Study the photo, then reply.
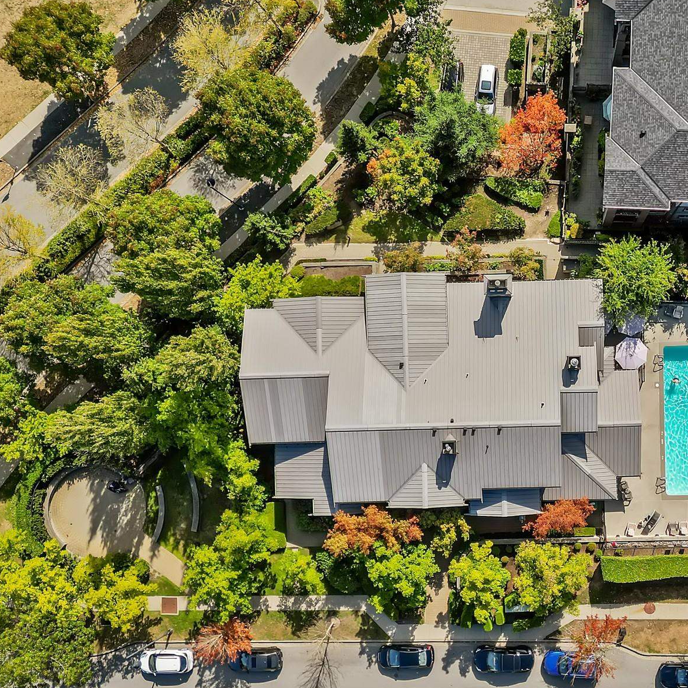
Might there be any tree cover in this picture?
Yes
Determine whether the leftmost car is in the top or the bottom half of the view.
bottom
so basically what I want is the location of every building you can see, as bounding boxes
[600,0,688,228]
[240,271,642,517]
